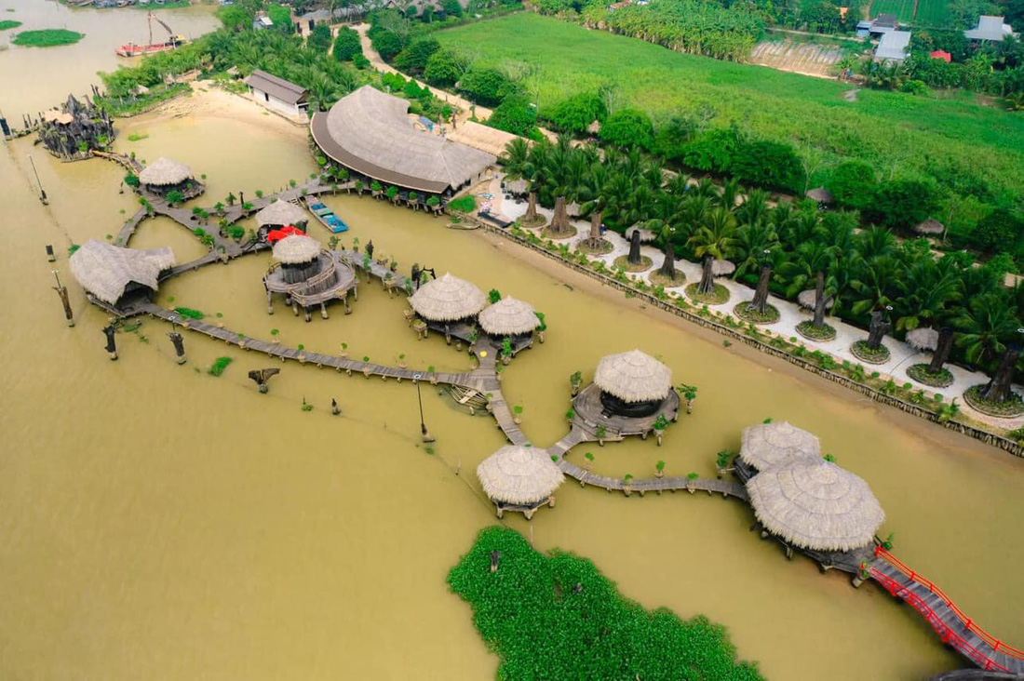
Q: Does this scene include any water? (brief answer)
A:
Yes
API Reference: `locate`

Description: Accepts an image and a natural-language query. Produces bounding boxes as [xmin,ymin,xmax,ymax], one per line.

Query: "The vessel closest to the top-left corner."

[117,9,187,55]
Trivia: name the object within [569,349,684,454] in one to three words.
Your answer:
building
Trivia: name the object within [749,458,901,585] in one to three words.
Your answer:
building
